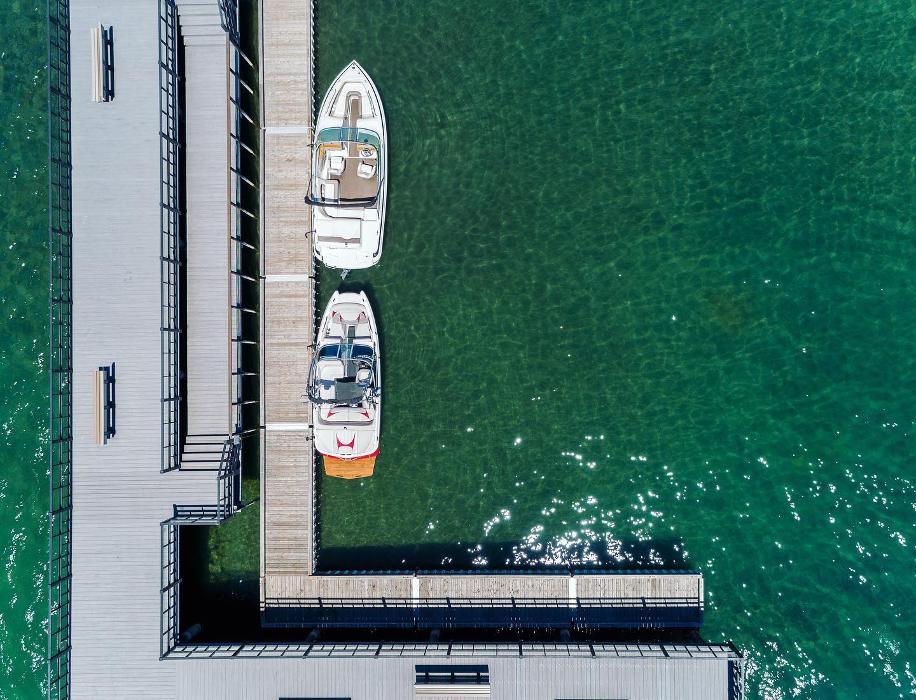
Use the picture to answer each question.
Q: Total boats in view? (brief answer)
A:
two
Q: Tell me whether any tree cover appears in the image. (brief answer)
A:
No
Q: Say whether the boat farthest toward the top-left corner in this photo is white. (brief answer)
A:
Yes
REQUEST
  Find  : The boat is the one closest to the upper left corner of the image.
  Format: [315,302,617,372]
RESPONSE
[303,61,385,281]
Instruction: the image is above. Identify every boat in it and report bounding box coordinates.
[303,61,385,281]
[301,290,382,478]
